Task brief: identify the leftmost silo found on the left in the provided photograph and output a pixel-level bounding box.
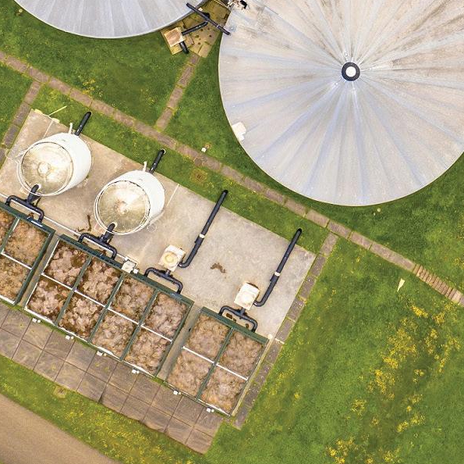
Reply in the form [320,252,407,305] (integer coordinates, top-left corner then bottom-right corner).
[4,110,92,224]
